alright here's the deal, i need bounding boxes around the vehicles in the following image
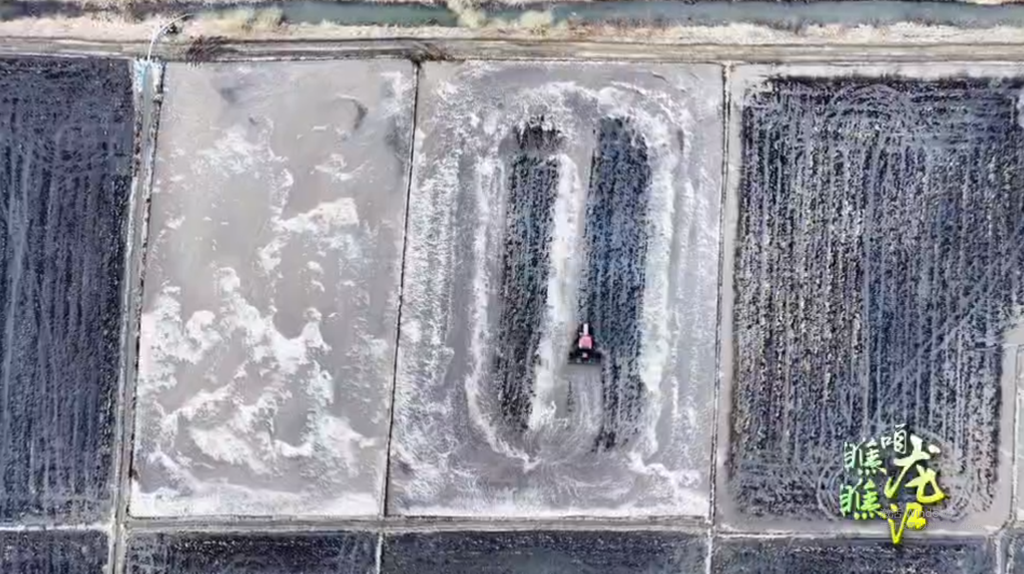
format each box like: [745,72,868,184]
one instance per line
[570,322,602,365]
